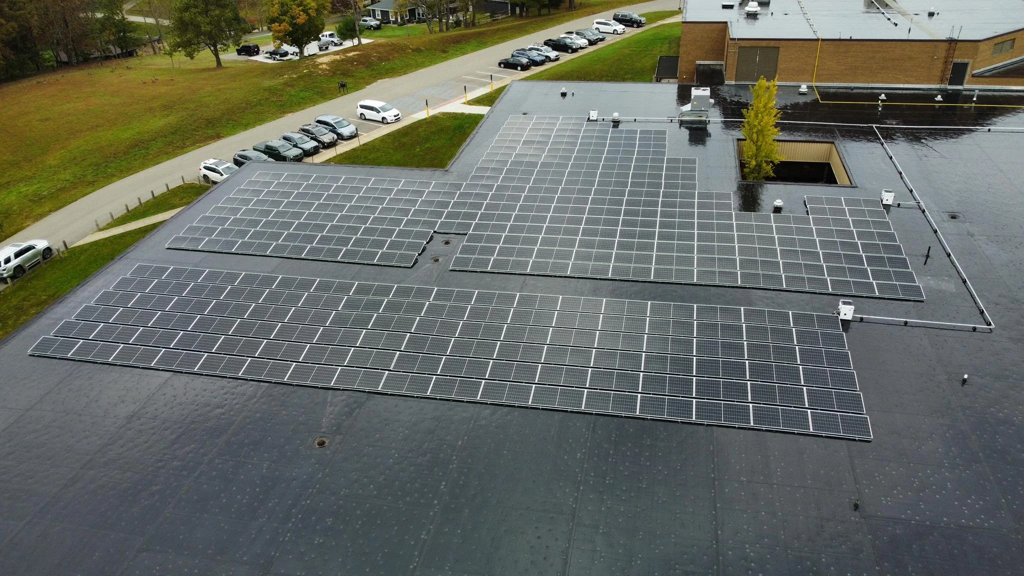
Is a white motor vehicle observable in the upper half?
Yes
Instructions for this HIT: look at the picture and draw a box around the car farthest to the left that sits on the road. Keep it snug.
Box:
[0,240,53,279]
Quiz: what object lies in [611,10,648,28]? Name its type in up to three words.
car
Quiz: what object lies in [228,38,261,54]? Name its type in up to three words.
car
